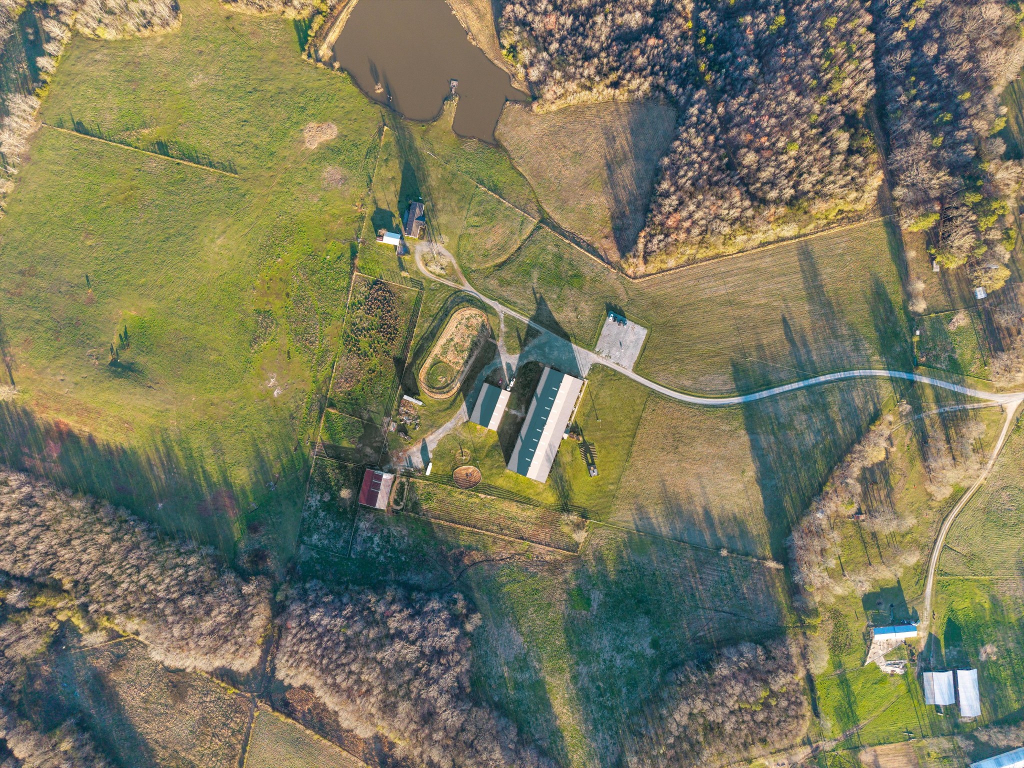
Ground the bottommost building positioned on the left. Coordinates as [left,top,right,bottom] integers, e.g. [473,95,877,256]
[359,469,394,509]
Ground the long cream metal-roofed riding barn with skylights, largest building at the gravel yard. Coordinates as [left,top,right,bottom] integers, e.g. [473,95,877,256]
[507,367,584,483]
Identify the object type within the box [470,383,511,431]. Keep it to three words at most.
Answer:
barn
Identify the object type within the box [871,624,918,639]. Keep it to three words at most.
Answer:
shed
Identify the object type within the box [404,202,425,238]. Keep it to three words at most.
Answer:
house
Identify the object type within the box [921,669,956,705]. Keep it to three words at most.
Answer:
shed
